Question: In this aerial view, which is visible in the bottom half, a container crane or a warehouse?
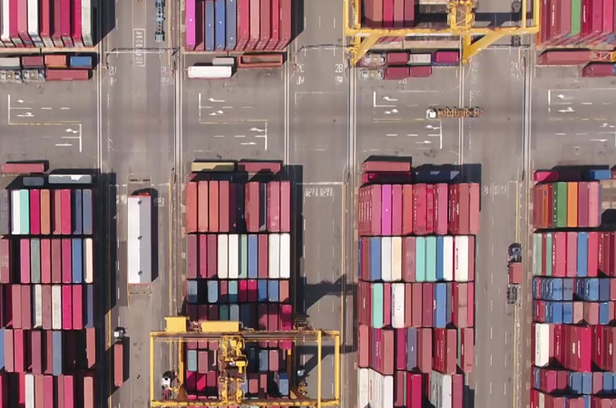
container crane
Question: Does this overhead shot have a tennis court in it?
No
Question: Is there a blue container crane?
No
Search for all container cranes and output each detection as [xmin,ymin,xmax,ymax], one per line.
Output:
[150,311,341,407]
[346,0,539,67]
